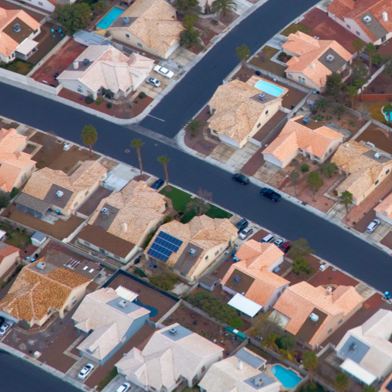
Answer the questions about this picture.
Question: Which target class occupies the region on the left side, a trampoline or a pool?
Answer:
pool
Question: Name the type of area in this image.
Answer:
residential area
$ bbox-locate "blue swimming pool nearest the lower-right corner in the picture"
[268,363,303,389]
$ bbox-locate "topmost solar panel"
[148,233,183,261]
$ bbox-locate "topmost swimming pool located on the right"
[252,78,286,98]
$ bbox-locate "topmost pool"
[96,5,126,29]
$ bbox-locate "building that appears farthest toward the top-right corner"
[328,0,392,46]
